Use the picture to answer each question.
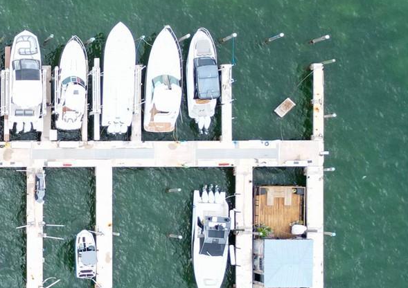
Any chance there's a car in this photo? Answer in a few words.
No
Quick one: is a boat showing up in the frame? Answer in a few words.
Yes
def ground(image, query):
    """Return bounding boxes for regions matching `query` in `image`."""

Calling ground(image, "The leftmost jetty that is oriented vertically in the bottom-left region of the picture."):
[24,168,43,288]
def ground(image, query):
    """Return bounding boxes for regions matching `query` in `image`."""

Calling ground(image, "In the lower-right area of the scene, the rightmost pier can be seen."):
[301,168,324,288]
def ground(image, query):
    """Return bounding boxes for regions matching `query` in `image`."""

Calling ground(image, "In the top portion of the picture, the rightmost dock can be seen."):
[308,64,324,140]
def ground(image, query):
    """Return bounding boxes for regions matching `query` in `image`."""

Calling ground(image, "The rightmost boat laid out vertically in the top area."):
[183,28,219,130]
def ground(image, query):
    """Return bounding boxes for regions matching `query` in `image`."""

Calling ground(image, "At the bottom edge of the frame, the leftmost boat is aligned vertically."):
[75,230,97,278]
